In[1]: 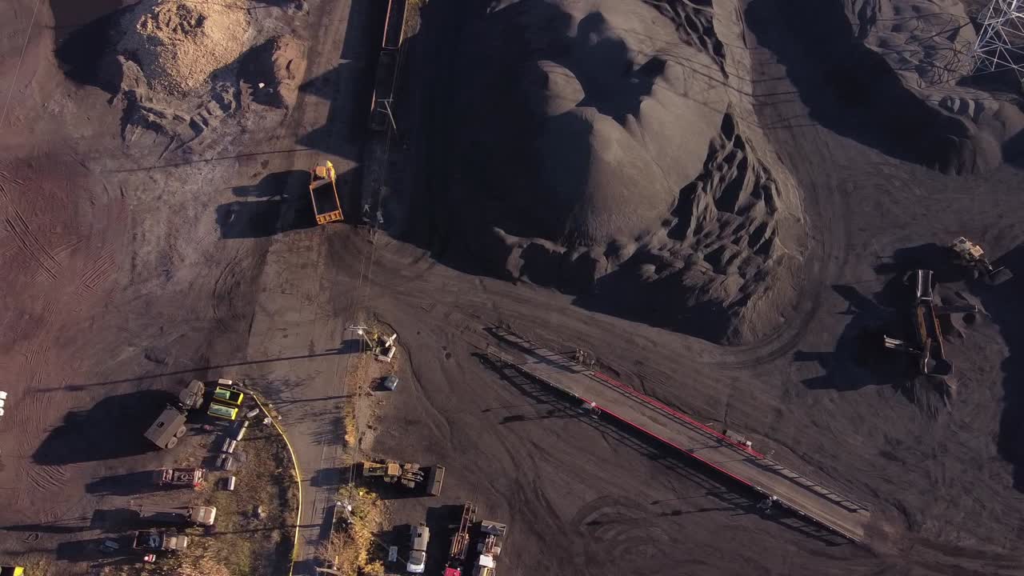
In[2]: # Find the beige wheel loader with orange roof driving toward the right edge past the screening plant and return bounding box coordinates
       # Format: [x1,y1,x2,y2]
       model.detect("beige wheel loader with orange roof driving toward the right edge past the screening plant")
[945,235,1018,295]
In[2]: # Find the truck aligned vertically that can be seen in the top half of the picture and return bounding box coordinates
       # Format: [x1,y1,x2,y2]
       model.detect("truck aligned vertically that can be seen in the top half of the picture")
[306,162,344,229]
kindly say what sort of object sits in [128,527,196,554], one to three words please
truck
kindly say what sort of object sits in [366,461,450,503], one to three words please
work vehicle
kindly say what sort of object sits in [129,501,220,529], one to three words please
truck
